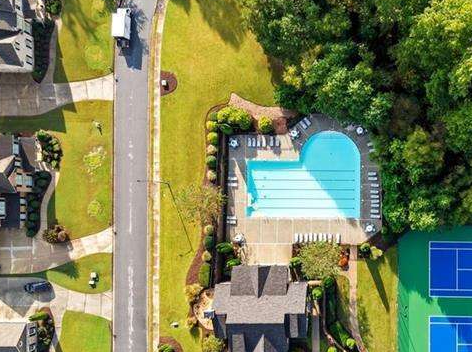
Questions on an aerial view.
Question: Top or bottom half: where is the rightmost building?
bottom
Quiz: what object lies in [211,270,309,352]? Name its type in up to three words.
building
